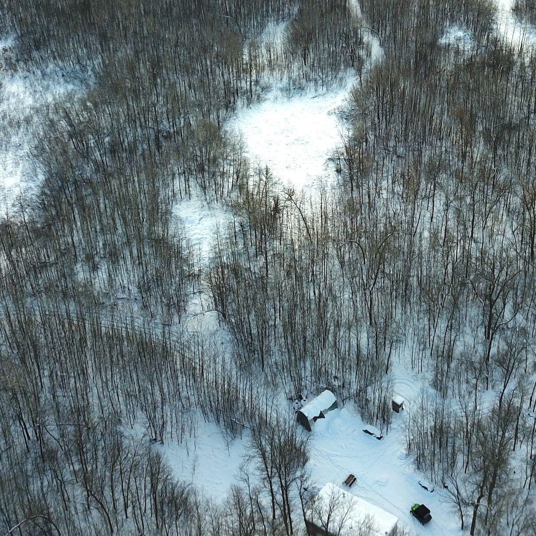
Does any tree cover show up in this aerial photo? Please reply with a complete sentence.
Yes, tree cover shows up in the scene.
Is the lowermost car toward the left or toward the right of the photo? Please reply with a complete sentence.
The lowermost car sits on the right side.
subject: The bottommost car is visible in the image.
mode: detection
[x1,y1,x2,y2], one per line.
[407,502,433,523]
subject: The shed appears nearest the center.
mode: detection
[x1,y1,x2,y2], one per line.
[295,388,338,431]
